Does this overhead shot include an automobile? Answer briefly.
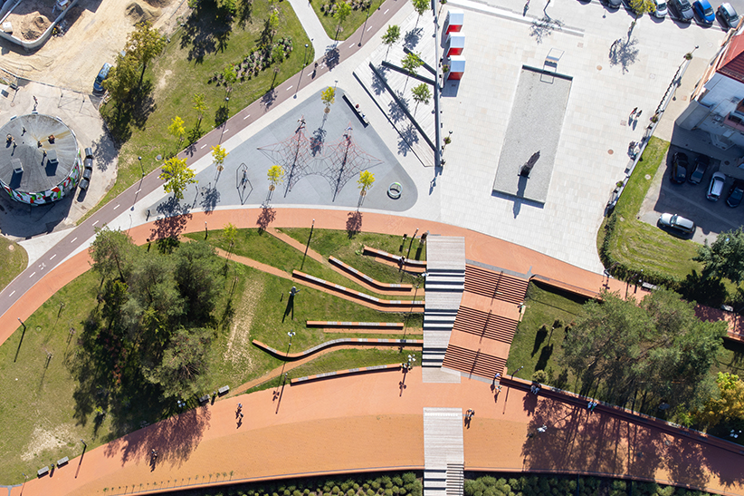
Yes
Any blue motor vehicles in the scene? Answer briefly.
Yes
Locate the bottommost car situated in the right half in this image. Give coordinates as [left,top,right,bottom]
[654,209,700,236]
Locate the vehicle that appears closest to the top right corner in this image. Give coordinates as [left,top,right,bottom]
[716,0,742,30]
